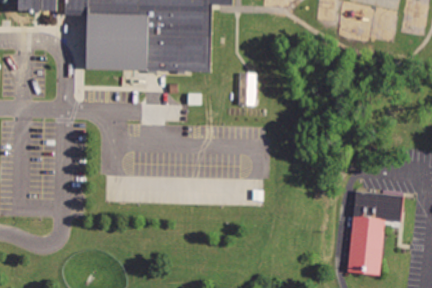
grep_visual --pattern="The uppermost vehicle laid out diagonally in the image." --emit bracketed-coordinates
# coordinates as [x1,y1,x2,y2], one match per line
[3,54,18,71]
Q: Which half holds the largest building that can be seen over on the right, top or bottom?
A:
bottom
